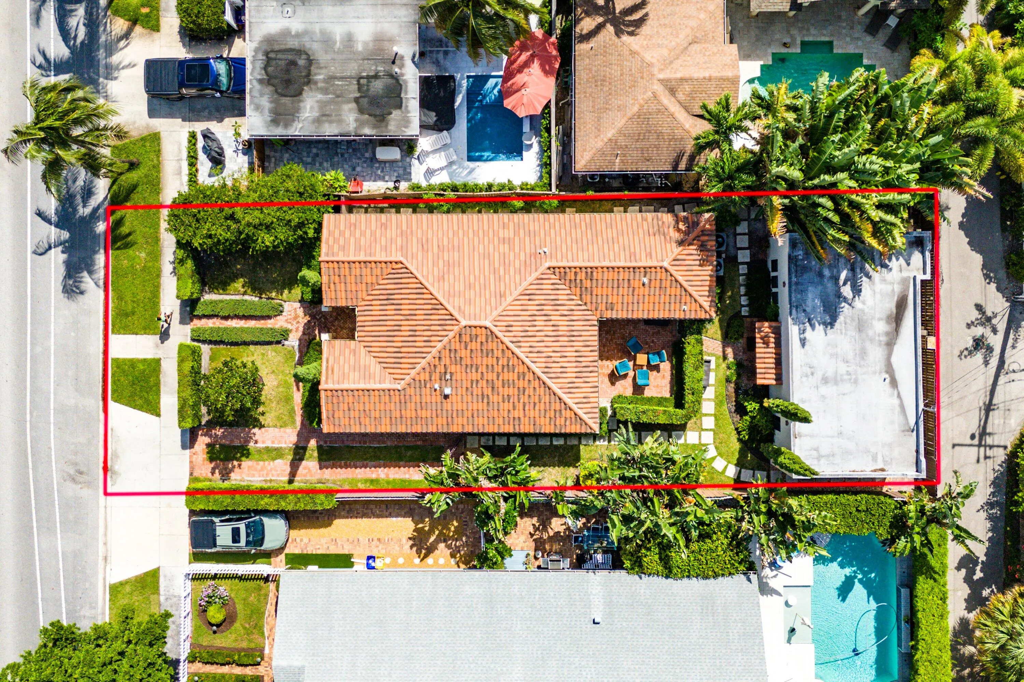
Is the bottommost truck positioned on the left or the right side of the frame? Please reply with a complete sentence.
The bottommost truck appears in the left half of the scene.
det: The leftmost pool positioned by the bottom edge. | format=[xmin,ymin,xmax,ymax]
[783,516,898,682]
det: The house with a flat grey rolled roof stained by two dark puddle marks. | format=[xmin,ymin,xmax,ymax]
[247,0,420,139]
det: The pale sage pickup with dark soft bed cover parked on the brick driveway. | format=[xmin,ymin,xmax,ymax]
[191,510,292,558]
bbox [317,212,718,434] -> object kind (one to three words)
house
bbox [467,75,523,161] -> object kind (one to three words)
swimming pool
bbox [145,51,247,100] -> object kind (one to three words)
truck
